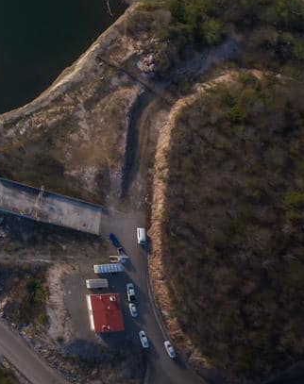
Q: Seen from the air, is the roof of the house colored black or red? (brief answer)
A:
red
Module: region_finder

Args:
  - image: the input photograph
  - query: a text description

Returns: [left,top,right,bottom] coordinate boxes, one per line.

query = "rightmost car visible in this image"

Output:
[163,340,176,359]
